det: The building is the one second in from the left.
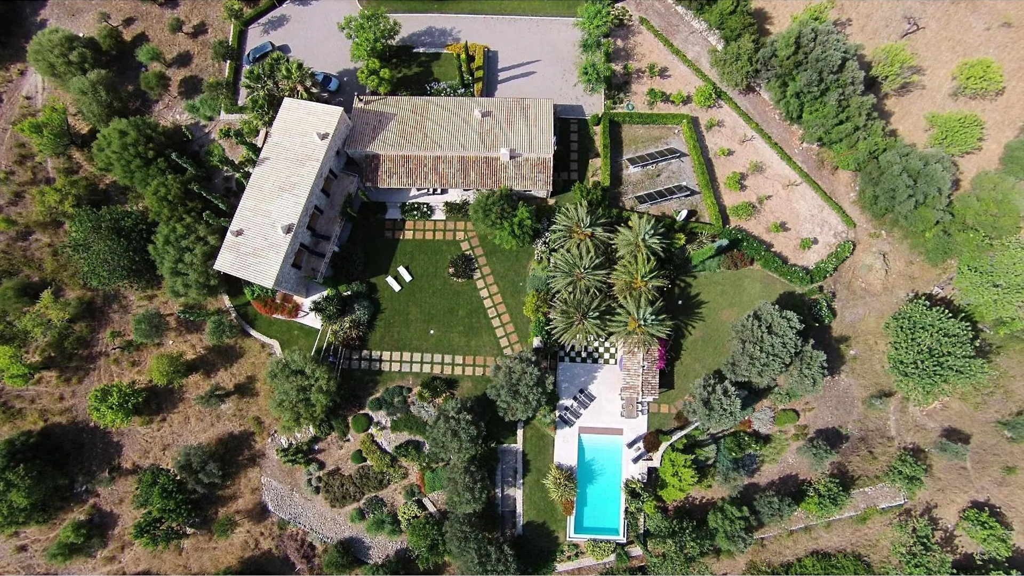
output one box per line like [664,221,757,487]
[345,91,556,195]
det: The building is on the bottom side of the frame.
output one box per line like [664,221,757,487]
[618,345,662,400]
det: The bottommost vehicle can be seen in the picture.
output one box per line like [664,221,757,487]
[312,67,346,97]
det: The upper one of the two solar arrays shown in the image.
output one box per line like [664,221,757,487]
[626,146,680,174]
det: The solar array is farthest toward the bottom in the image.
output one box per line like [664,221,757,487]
[634,184,690,209]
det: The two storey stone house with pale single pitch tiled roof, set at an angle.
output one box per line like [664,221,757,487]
[214,94,366,292]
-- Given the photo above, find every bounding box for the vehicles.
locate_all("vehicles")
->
[312,67,346,97]
[243,39,281,71]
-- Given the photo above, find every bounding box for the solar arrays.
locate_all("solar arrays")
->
[626,146,680,174]
[634,184,690,209]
